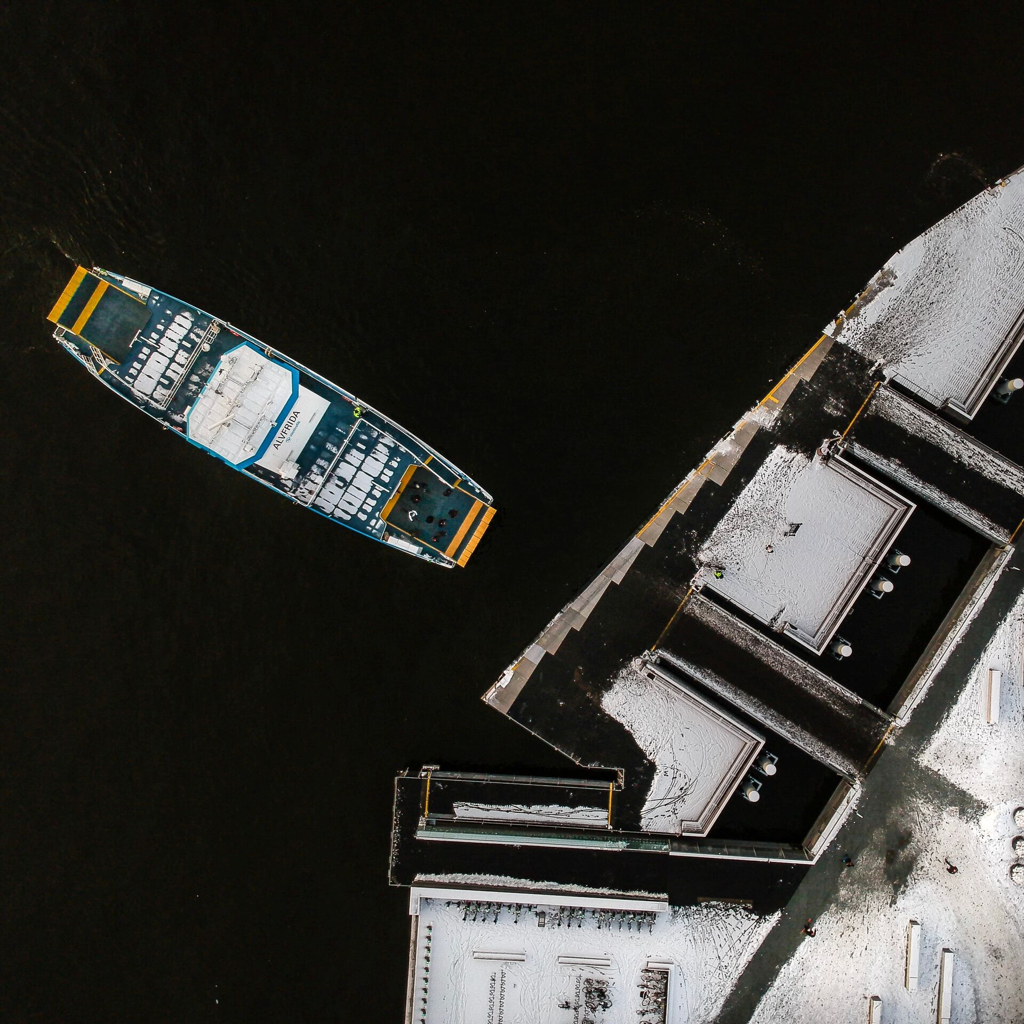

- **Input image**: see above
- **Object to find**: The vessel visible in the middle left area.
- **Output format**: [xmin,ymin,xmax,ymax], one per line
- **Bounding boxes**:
[47,264,497,568]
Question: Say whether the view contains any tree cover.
No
